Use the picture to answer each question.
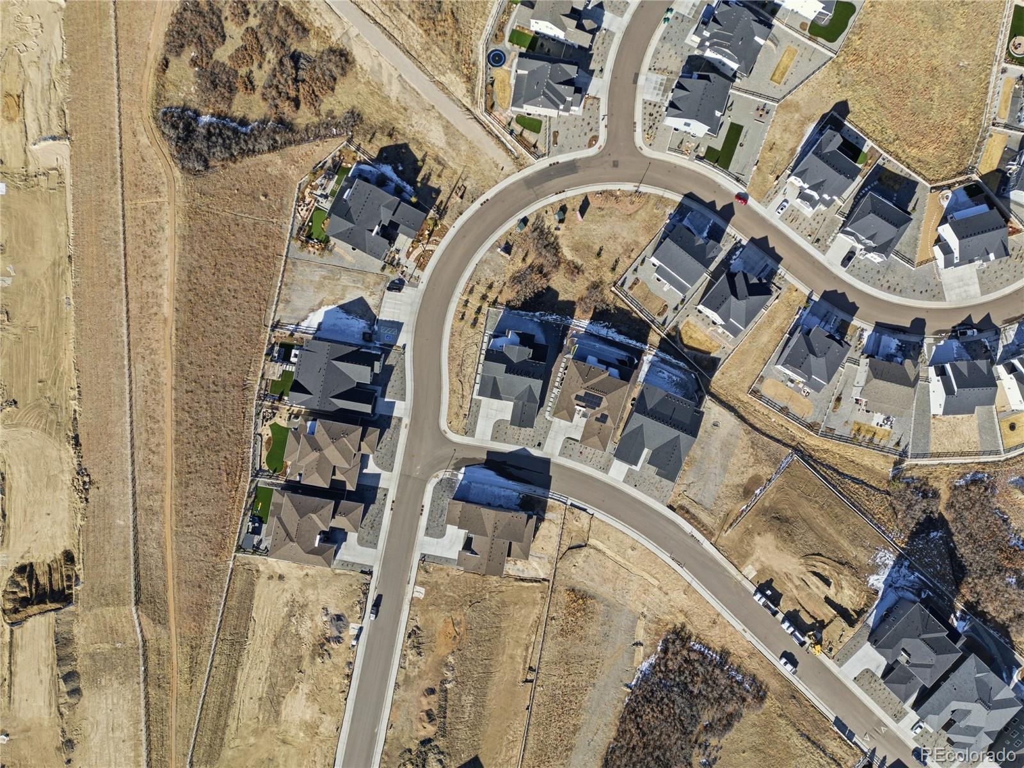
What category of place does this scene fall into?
residential area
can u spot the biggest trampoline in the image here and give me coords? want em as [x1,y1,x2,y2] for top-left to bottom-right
[488,47,506,64]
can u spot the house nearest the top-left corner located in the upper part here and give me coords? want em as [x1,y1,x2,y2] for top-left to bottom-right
[326,176,429,262]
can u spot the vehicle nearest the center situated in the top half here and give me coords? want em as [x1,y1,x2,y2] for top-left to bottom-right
[388,275,403,295]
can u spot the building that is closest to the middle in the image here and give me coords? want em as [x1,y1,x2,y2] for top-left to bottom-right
[479,336,545,427]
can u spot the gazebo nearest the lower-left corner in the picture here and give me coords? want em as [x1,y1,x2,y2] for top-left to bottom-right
[236,534,253,552]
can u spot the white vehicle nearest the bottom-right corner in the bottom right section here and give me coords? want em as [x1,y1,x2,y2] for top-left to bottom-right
[910,719,931,738]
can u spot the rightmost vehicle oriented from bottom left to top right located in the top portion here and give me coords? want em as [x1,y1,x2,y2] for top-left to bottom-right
[841,248,860,270]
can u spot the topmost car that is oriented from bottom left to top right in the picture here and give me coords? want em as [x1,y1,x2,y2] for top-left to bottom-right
[775,195,792,215]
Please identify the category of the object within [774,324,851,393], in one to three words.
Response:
house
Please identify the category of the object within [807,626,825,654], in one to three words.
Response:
work vehicle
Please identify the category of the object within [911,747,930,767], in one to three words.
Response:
car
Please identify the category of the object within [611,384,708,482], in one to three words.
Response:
house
